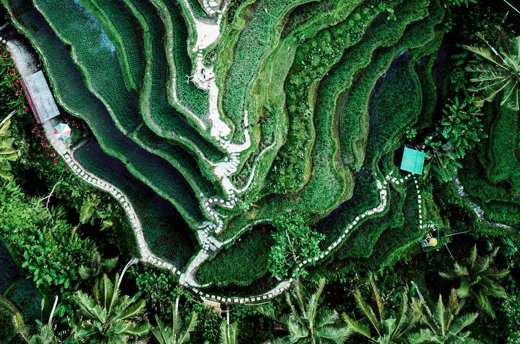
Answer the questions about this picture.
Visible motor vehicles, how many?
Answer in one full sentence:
There are no motor vehicles in this view.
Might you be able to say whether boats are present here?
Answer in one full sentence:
No, there's no boat here.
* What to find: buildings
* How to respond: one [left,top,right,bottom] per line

[397,145,426,176]
[19,67,61,124]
